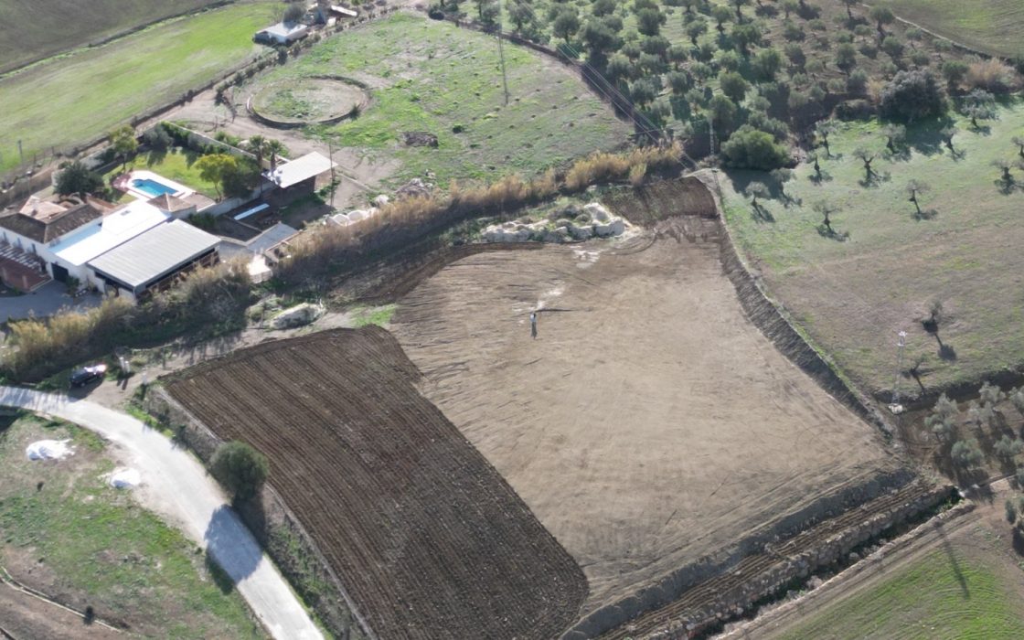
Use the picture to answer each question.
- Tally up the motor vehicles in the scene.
1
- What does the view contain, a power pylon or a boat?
power pylon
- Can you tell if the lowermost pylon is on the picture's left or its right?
right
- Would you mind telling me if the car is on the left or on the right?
left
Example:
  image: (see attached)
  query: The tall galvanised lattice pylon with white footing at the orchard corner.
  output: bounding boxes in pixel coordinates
[890,325,918,421]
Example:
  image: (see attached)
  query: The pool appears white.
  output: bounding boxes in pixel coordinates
[116,169,197,201]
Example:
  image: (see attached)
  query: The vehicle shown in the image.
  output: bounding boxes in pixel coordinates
[66,364,108,388]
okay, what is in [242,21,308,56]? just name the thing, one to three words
barn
